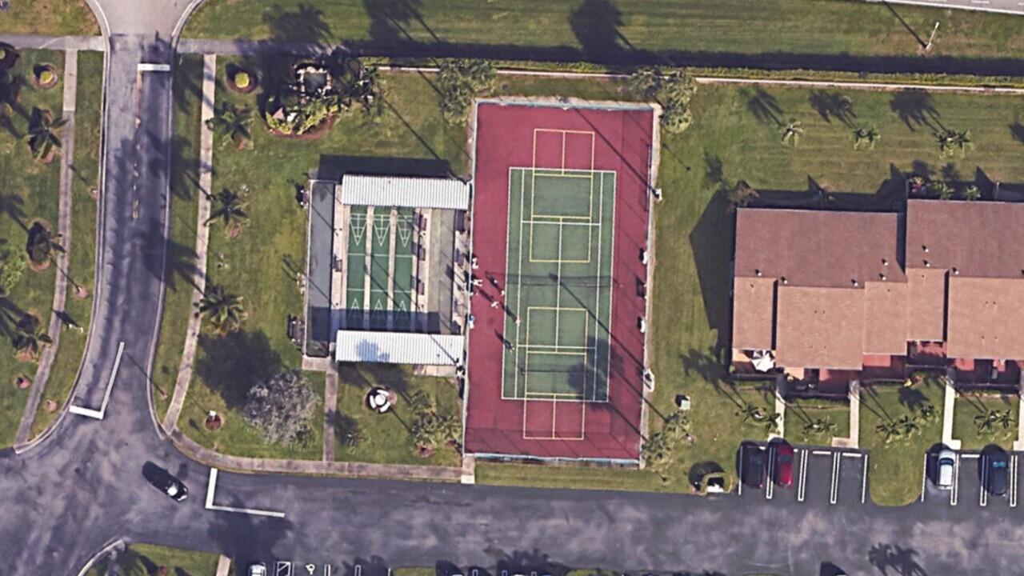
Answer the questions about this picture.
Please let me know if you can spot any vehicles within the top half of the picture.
No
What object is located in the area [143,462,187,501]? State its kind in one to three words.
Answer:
car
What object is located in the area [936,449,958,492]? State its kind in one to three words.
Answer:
car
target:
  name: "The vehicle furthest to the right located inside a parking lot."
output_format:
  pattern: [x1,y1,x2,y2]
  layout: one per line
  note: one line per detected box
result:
[984,449,1007,497]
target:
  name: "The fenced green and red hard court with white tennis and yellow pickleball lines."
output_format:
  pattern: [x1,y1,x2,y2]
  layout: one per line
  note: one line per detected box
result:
[465,105,652,462]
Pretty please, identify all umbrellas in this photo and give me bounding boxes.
[749,351,775,375]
